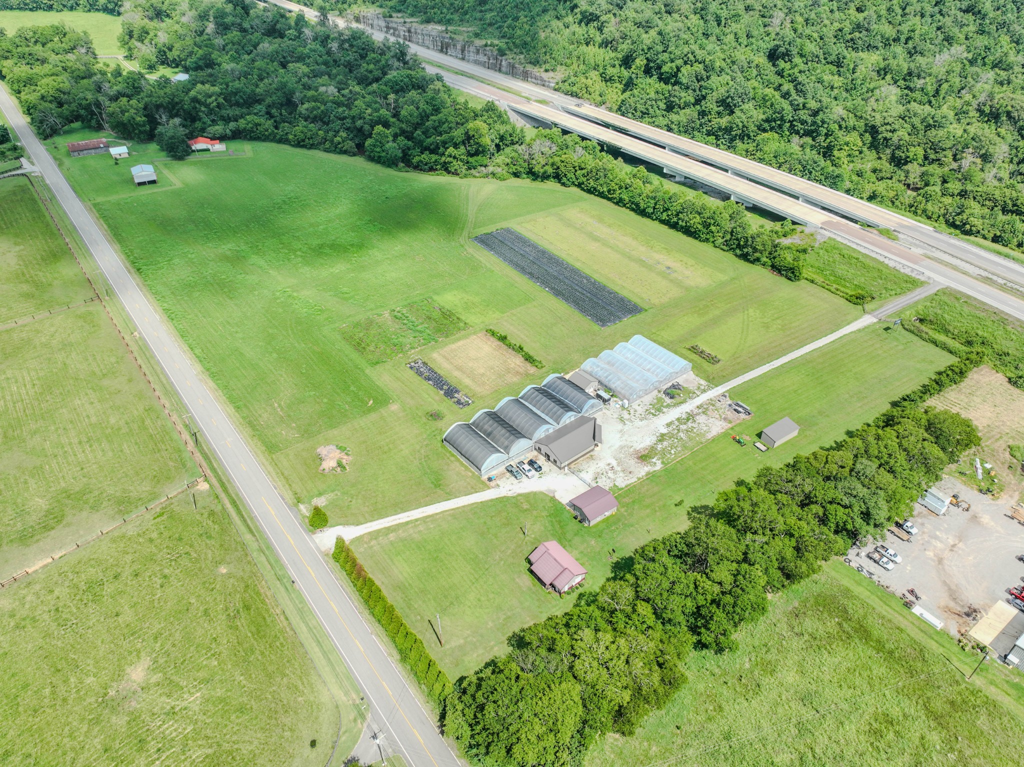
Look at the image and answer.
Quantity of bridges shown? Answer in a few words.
1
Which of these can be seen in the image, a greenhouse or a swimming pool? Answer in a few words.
greenhouse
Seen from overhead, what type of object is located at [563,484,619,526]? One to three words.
building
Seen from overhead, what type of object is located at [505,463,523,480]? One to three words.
vehicle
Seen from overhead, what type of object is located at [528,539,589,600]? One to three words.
house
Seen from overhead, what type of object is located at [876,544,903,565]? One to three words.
truck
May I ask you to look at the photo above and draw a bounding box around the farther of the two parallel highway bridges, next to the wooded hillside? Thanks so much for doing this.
[535,94,873,217]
